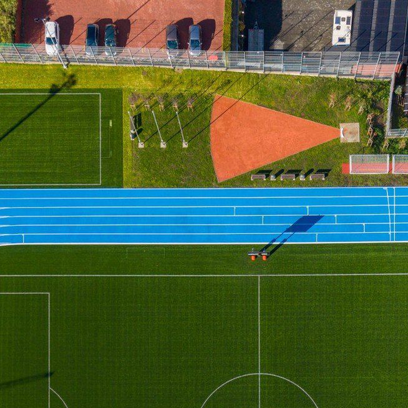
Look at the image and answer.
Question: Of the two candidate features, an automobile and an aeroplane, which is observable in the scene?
automobile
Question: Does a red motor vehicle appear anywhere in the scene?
No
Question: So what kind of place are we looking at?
sports ground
